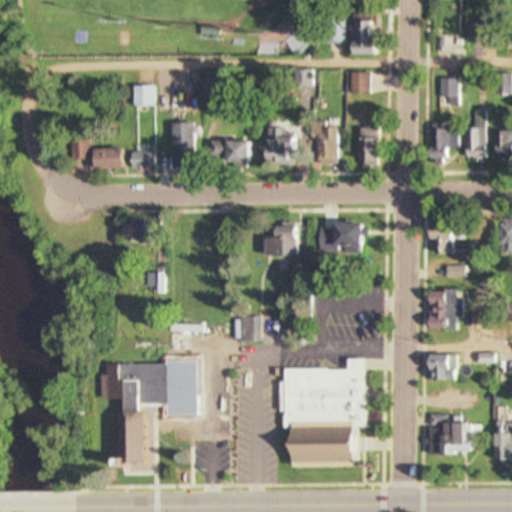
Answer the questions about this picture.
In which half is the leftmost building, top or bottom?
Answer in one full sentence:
The top half of the photo is where the leftmost building is.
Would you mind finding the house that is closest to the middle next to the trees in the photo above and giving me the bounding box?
[264,222,297,256]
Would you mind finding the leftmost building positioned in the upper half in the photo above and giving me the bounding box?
[72,140,94,162]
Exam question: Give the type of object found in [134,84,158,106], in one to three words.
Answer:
building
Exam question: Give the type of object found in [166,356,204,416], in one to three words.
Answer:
building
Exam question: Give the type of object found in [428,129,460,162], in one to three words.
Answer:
house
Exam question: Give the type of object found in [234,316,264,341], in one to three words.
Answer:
shed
